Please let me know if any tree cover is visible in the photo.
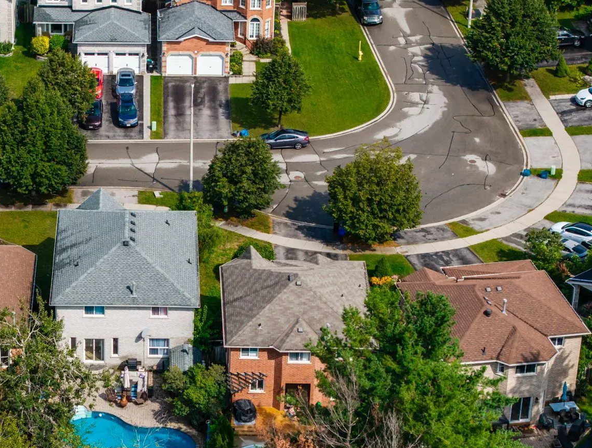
Yes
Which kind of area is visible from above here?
residential area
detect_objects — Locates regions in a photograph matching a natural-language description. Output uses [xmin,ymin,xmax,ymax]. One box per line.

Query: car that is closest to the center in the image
[258,125,312,149]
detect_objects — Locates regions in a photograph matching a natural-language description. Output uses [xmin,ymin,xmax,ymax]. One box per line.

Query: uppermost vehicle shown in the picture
[357,0,382,23]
